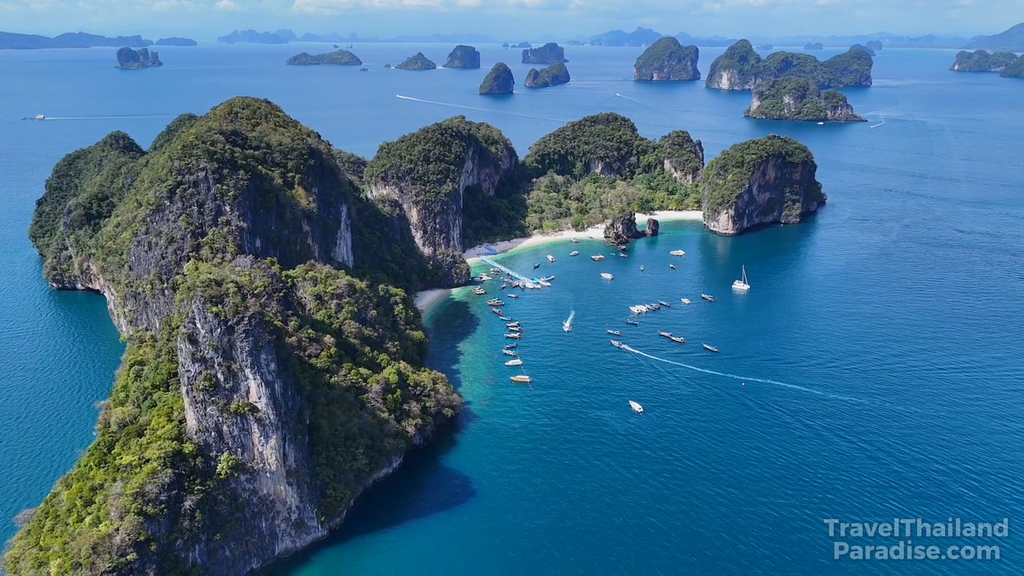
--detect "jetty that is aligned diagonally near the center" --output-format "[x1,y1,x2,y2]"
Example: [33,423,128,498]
[478,244,540,283]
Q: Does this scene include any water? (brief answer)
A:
Yes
